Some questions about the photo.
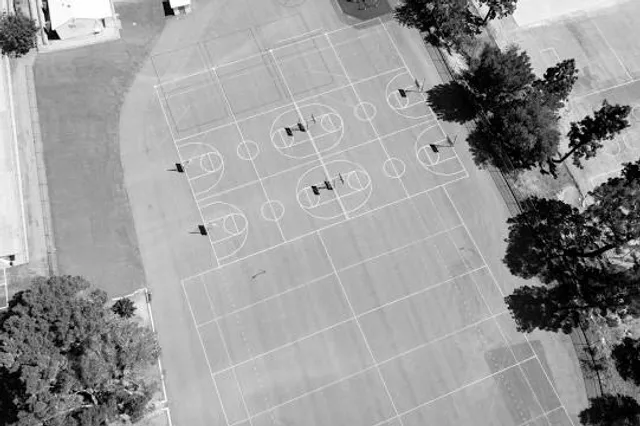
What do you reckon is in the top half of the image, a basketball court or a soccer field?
basketball court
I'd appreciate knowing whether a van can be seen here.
No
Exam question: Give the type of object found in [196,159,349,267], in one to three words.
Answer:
basketball court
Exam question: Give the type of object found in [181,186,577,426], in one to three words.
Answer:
sports court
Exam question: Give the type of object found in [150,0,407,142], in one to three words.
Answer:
sports court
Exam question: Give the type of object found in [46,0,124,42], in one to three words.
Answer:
building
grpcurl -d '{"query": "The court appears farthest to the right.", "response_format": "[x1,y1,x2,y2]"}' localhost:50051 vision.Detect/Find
[488,0,640,211]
